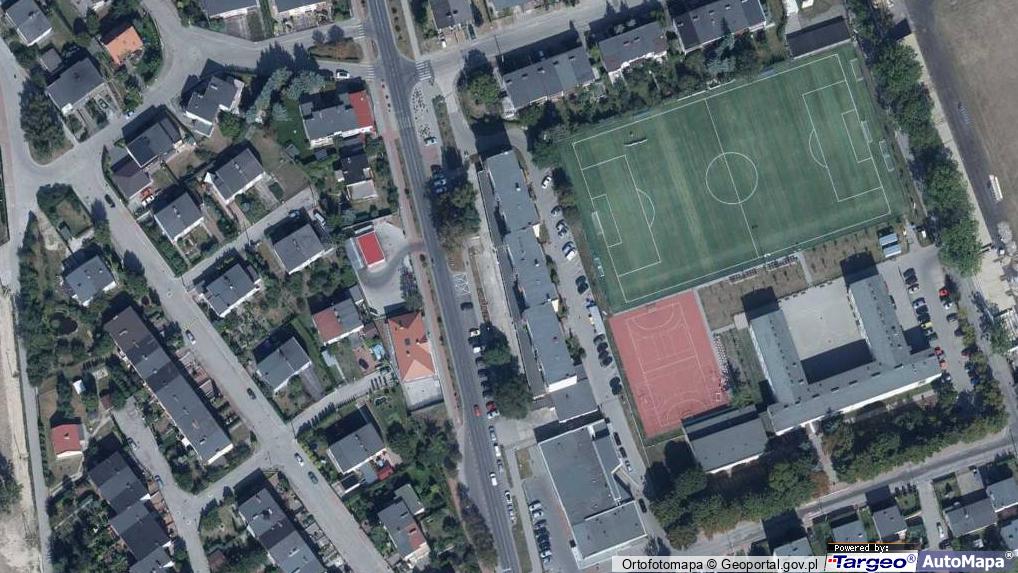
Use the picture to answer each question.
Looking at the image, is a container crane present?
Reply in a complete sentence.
No, I find no container crane anywhere in the image.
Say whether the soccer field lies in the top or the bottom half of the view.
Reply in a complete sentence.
The top half of the photo is where the soccer field is.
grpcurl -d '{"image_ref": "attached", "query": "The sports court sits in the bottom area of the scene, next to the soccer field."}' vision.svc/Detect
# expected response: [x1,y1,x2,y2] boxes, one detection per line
[609,290,731,438]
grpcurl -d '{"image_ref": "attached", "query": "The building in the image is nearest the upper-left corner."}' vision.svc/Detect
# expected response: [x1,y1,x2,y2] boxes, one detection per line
[5,0,53,49]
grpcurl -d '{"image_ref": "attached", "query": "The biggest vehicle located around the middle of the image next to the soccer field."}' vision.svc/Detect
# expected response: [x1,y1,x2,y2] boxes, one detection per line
[589,302,607,333]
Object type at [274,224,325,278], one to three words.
house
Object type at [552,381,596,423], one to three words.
building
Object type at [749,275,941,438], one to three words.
building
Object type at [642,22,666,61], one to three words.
house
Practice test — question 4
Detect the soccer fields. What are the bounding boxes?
[559,40,906,313]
